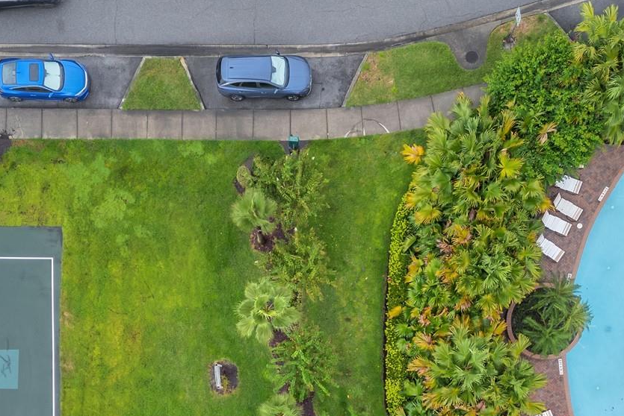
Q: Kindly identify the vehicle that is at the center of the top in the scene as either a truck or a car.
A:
car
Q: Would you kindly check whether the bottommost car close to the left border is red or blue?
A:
blue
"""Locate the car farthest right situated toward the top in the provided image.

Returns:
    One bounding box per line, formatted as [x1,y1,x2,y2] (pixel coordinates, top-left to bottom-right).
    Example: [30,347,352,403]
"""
[218,50,313,103]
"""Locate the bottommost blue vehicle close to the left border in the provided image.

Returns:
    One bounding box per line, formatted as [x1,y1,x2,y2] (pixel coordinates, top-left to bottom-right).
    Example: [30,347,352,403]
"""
[0,55,87,105]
